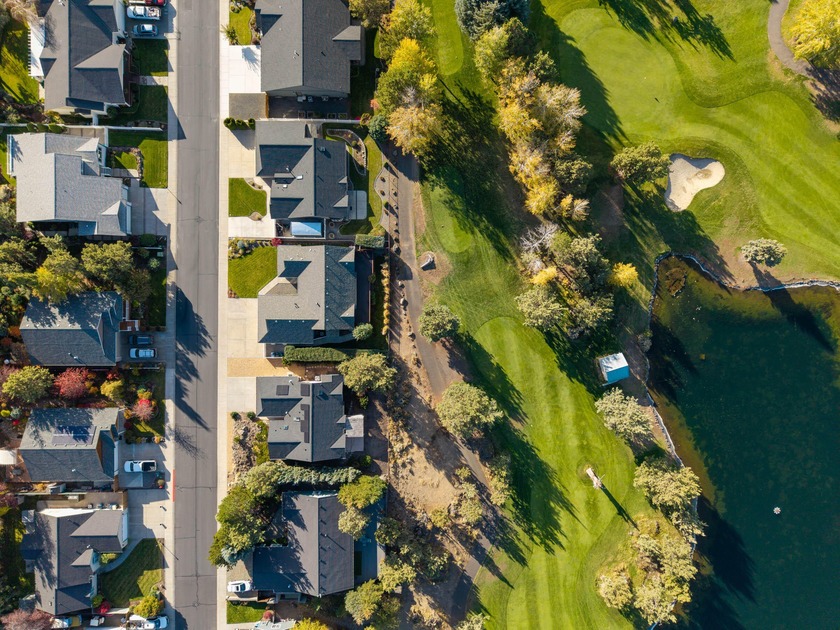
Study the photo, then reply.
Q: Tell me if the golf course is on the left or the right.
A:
right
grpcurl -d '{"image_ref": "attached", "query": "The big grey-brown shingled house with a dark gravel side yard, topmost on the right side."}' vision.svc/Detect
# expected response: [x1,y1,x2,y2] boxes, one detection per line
[259,0,361,96]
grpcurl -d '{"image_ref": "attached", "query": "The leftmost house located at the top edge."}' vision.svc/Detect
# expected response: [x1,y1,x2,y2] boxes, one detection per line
[25,0,132,115]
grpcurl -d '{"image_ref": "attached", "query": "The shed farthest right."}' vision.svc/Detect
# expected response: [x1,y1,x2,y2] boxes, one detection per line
[595,353,629,383]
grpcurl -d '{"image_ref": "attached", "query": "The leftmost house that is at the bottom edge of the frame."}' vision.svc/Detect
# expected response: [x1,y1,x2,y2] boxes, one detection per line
[20,505,130,618]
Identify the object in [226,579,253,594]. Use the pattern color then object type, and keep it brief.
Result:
white car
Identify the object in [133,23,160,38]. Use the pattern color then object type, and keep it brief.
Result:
blue car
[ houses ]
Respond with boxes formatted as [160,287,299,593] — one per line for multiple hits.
[259,0,361,96]
[256,376,364,468]
[18,409,126,482]
[25,0,132,115]
[18,291,128,365]
[2,128,132,238]
[252,491,354,603]
[256,120,349,218]
[258,244,356,343]
[20,505,130,618]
